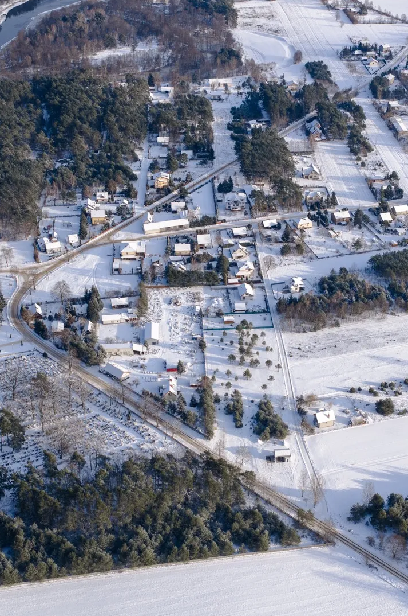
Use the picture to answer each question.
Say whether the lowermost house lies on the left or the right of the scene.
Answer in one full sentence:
It is on the right.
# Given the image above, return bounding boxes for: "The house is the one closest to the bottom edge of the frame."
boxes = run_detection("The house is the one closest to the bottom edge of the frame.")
[258,444,292,464]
